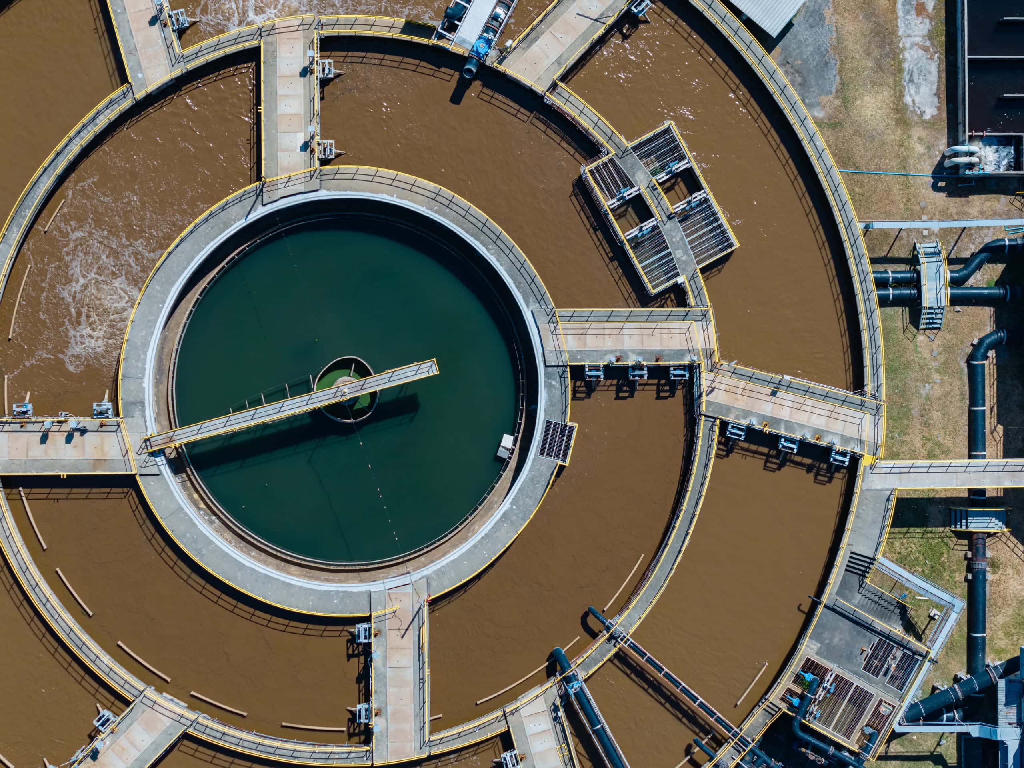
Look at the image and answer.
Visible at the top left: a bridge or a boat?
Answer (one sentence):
There is a bridge at the top left.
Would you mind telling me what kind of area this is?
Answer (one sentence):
It's an industrial area.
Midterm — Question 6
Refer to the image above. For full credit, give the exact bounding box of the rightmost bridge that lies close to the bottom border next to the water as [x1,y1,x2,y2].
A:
[505,675,580,768]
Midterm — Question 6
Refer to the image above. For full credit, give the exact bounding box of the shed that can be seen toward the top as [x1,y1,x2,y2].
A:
[722,0,805,39]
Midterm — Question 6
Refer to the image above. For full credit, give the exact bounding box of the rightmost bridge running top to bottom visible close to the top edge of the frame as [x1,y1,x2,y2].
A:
[262,14,320,205]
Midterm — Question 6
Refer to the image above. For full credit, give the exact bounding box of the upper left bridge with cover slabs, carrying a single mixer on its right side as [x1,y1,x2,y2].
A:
[109,0,185,98]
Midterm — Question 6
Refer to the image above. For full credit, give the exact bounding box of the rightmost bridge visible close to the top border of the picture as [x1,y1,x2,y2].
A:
[492,0,634,94]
